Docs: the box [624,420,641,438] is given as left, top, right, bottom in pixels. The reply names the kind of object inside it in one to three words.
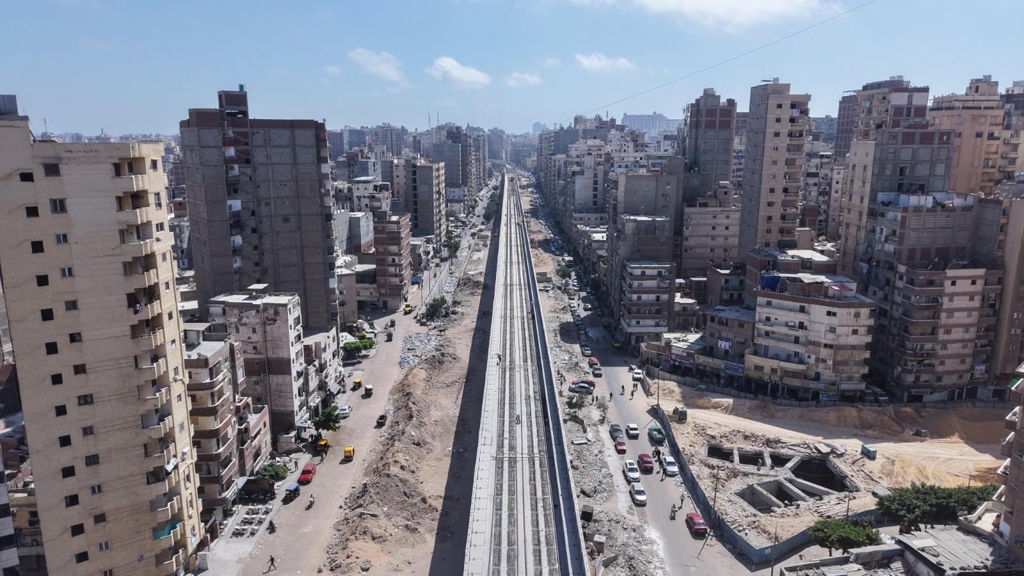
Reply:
car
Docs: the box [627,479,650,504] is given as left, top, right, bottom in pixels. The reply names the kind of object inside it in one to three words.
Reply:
car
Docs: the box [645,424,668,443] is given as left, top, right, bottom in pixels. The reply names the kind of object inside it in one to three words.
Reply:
vehicle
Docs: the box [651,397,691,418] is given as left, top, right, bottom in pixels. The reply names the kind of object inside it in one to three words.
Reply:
work vehicle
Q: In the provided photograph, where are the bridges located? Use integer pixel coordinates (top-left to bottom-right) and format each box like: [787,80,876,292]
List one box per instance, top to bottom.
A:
[463,161,591,576]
